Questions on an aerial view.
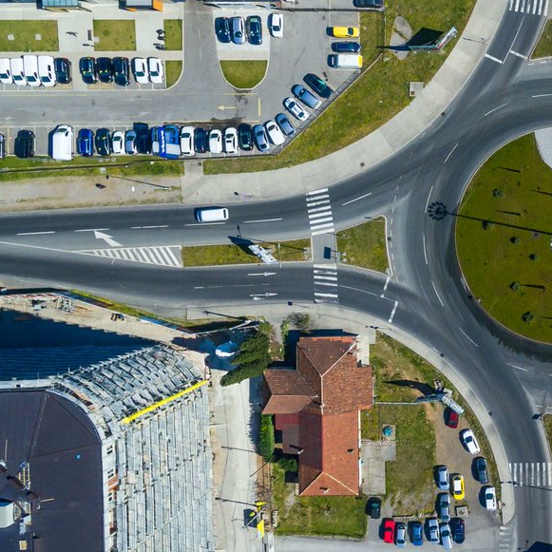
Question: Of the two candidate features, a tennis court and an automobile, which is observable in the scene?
automobile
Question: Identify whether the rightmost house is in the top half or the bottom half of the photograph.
bottom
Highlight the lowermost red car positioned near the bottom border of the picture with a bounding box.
[383,518,396,543]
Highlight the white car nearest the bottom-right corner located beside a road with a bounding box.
[484,483,497,511]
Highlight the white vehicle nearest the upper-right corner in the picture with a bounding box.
[328,53,361,68]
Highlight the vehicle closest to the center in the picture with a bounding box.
[197,207,229,221]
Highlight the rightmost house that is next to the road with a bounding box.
[262,339,377,496]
